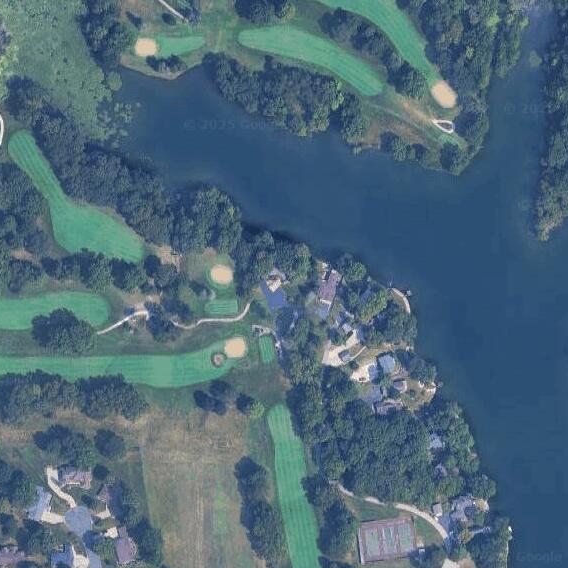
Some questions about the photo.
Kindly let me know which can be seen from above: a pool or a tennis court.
tennis court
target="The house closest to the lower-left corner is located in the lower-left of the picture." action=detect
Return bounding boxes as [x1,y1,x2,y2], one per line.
[0,546,25,564]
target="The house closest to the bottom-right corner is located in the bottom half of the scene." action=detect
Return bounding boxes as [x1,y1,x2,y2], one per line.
[450,497,476,523]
